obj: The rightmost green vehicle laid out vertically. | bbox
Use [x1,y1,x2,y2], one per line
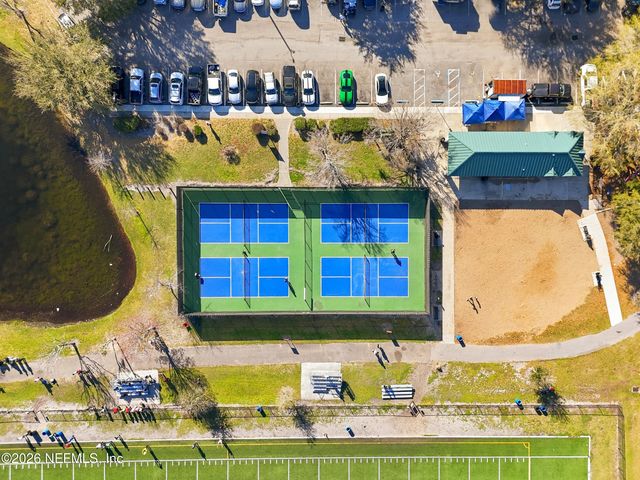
[339,71,354,105]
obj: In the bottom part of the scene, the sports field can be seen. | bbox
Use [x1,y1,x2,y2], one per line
[0,435,589,480]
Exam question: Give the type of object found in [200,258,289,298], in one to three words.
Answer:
sports court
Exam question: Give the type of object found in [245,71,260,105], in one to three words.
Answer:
car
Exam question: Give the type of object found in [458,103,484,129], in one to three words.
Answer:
tent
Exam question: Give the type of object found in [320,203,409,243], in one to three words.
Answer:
sports court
